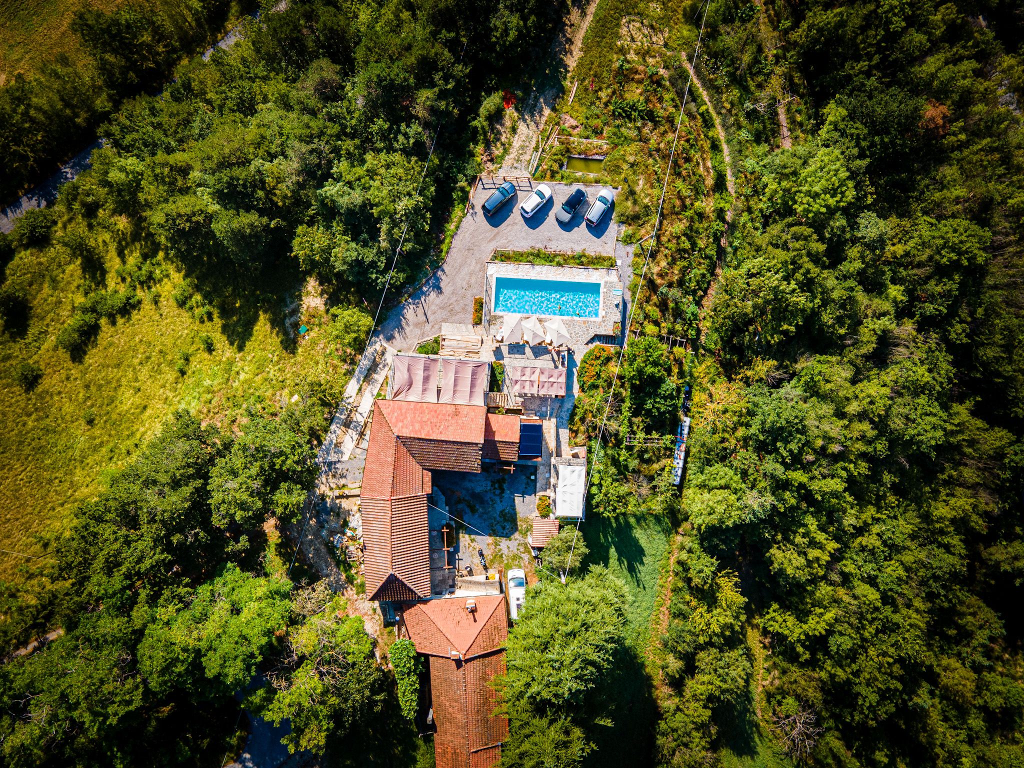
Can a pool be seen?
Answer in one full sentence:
Yes, a pool appears in the view.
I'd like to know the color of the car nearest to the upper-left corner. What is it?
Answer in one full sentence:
The car nearest to the upper-left corner looks blue in the image.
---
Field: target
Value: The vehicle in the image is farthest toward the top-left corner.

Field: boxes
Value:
[481,181,516,218]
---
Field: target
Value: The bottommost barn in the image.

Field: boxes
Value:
[428,650,507,768]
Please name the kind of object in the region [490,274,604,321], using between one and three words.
swimming pool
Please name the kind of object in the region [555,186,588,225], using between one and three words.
car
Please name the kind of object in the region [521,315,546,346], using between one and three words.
umbrella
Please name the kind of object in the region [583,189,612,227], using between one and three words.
car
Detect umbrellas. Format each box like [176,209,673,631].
[521,315,546,346]
[544,317,571,346]
[504,316,522,343]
